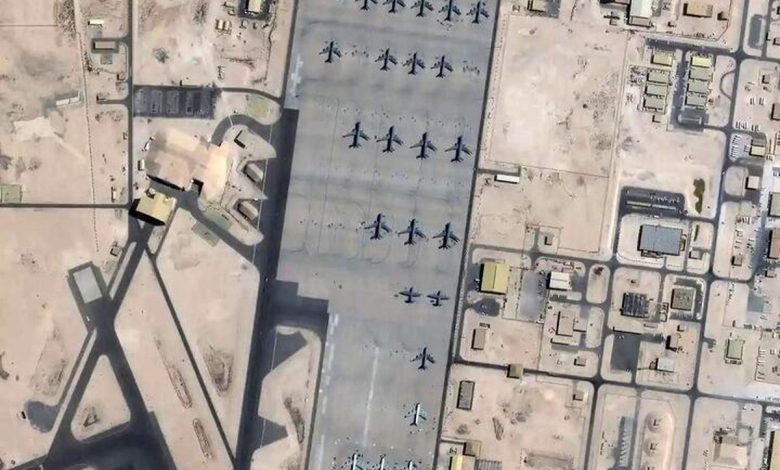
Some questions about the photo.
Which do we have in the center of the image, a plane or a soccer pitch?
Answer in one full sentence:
You can see a plane in the center of the image.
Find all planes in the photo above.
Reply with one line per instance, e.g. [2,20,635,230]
[405,403,427,426]
[438,0,459,21]
[377,126,403,153]
[384,0,405,13]
[445,136,470,162]
[342,452,364,470]
[320,41,340,62]
[411,0,432,16]
[431,56,452,77]
[344,121,369,149]
[403,53,424,74]
[404,460,415,470]
[428,291,449,306]
[433,222,458,249]
[466,1,488,24]
[365,213,390,240]
[400,287,420,302]
[376,49,396,70]
[412,347,434,369]
[398,219,423,245]
[371,457,388,470]
[411,133,436,159]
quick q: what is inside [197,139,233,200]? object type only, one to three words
hangar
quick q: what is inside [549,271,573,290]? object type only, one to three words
building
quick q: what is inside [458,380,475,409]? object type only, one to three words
building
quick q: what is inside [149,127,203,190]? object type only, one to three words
hangar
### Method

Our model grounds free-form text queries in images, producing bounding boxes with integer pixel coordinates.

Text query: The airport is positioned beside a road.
[5,0,495,470]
